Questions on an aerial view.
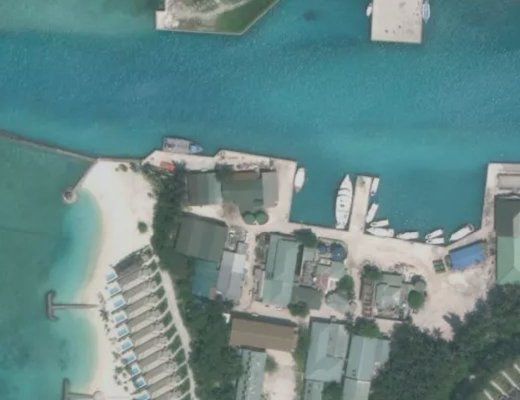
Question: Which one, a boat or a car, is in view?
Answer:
boat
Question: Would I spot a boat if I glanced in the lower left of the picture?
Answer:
No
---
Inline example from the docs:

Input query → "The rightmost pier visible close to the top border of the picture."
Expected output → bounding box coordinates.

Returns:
[371,0,422,43]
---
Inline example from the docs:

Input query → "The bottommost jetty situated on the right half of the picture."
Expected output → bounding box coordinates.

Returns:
[349,176,371,234]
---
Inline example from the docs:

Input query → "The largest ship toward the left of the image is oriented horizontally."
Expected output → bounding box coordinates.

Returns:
[162,138,204,154]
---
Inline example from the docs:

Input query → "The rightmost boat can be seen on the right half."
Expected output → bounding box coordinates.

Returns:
[450,224,475,241]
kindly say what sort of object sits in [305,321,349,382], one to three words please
house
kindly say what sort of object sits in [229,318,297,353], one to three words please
building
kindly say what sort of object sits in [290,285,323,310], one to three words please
house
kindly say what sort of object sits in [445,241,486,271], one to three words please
shed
